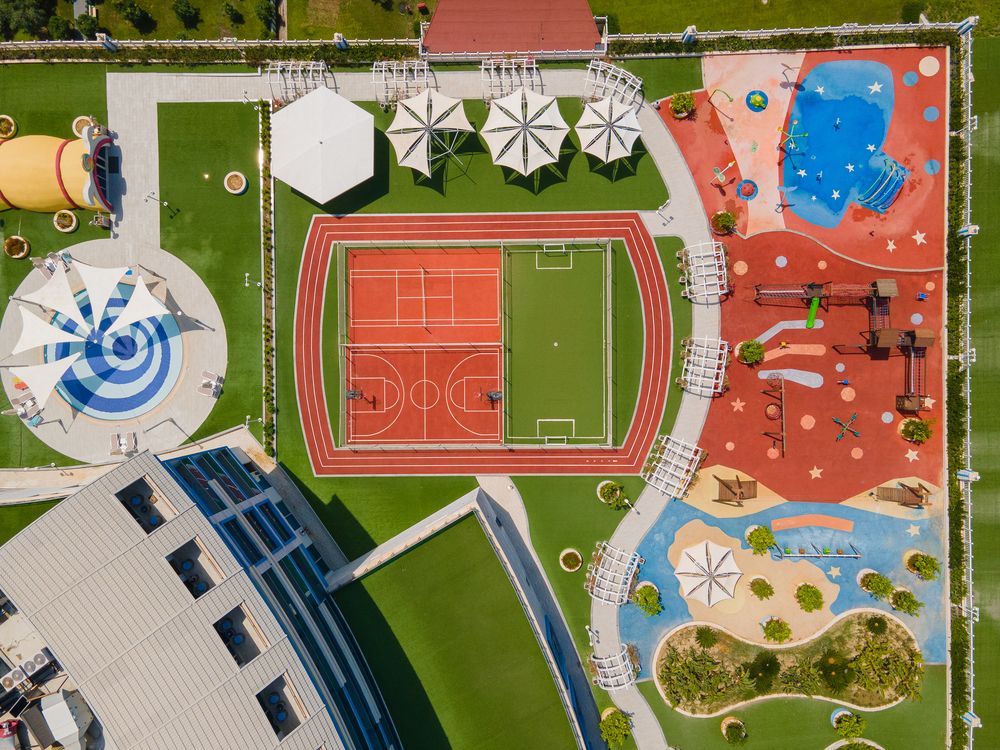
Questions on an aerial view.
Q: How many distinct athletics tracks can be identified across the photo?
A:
1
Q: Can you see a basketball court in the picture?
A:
Yes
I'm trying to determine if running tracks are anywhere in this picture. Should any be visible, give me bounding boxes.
[293,210,675,478]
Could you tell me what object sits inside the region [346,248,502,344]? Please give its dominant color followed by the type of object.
red tennis court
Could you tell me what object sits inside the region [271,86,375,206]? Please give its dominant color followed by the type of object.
white tent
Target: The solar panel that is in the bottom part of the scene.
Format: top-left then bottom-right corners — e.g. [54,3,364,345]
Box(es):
[8,694,31,718]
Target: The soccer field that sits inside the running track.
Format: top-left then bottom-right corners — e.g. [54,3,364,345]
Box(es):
[503,244,607,445]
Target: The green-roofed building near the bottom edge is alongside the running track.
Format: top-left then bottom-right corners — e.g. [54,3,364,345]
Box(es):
[320,489,587,750]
